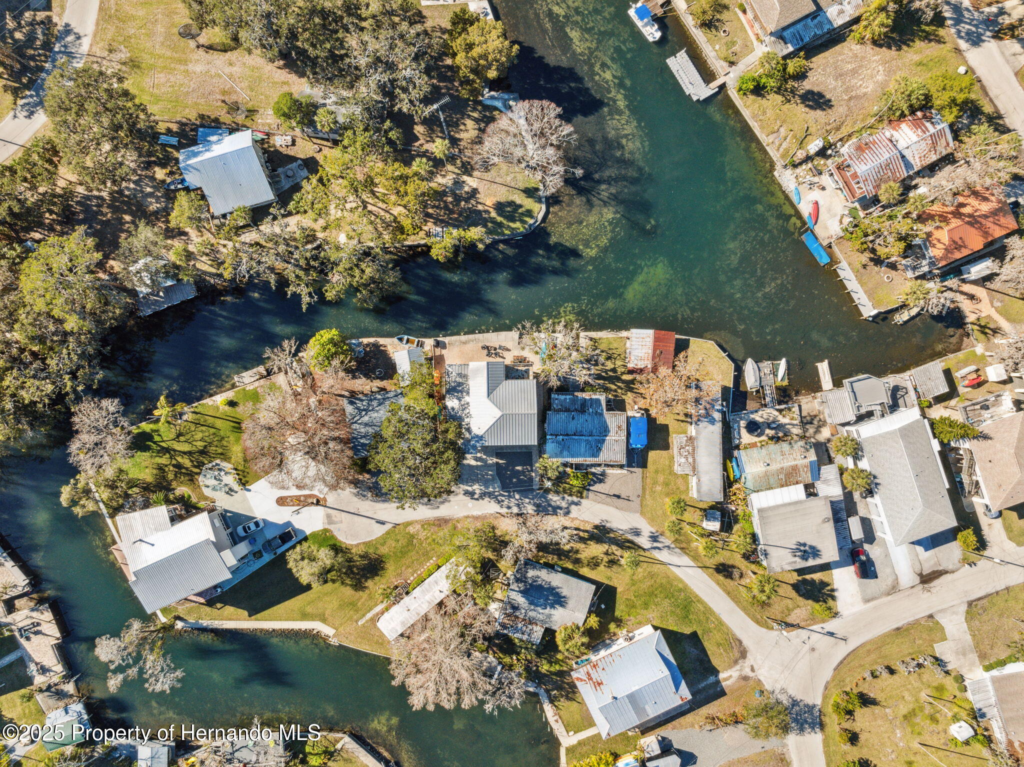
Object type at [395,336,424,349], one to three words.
boat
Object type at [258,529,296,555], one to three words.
truck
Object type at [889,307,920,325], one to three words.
boat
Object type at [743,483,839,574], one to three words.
house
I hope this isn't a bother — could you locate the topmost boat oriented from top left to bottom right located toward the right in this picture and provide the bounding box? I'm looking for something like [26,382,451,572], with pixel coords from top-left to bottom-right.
[626,0,660,43]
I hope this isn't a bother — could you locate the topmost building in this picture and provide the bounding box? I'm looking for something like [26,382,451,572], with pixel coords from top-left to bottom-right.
[739,0,872,57]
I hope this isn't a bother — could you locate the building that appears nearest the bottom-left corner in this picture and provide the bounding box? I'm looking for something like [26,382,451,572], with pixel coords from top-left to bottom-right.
[42,712,94,752]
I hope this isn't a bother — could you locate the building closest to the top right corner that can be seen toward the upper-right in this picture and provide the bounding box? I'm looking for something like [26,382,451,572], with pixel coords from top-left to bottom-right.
[876,109,954,175]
